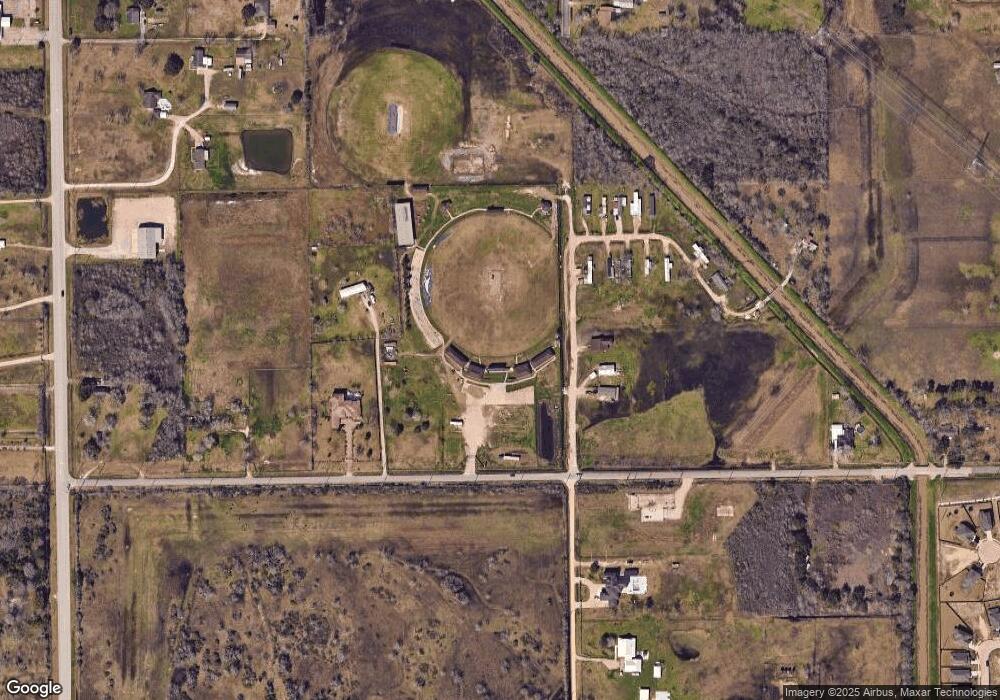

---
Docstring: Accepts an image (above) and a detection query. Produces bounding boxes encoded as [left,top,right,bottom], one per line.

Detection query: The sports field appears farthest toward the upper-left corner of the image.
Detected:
[329,48,462,186]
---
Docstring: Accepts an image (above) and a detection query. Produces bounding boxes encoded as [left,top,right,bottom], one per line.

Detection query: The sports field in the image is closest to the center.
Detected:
[432,213,557,355]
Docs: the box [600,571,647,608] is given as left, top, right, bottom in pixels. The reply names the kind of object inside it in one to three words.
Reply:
house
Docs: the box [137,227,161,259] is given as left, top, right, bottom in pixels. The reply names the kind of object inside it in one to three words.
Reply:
building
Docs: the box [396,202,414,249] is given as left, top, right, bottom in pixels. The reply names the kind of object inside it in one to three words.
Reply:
building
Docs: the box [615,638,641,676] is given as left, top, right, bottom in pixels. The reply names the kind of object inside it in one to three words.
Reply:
house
